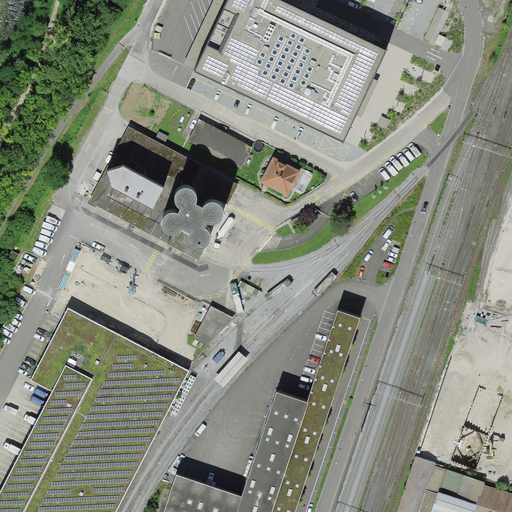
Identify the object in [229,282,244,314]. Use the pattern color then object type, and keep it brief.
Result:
white vehicle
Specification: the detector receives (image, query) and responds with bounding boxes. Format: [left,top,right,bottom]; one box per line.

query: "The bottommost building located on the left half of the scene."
[162,472,242,512]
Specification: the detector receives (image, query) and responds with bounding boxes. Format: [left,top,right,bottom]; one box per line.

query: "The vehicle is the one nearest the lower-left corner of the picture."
[2,442,21,456]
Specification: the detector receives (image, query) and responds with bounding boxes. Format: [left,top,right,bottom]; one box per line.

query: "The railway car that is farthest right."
[314,272,338,296]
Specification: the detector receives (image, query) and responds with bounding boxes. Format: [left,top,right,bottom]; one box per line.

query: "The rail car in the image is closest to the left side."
[263,278,294,302]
